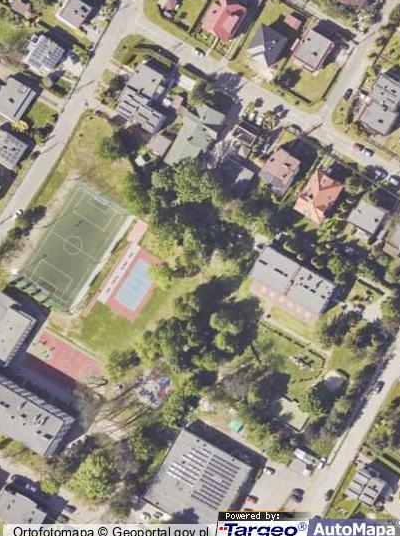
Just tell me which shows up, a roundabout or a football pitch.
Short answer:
football pitch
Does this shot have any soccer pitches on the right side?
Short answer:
No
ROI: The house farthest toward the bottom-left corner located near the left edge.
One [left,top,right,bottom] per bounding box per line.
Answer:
[0,486,47,528]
